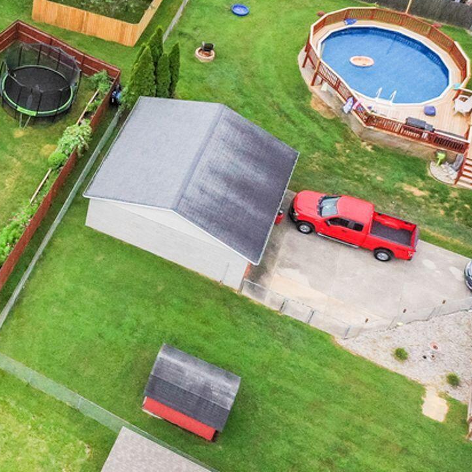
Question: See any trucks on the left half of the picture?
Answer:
No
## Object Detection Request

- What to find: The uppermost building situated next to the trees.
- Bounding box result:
[82,96,298,286]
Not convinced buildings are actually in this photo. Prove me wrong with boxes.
[82,96,298,286]
[140,348,235,443]
[105,427,225,472]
